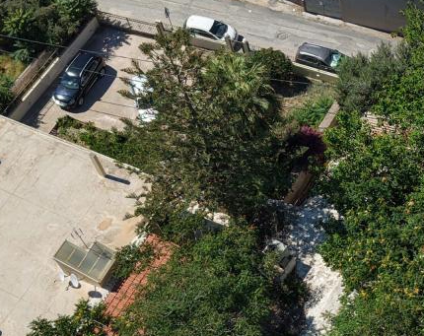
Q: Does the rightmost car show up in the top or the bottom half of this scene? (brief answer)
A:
top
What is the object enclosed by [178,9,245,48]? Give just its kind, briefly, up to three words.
car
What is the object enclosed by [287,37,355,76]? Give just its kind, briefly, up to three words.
car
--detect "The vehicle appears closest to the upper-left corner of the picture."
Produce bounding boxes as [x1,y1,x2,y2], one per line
[52,48,103,111]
